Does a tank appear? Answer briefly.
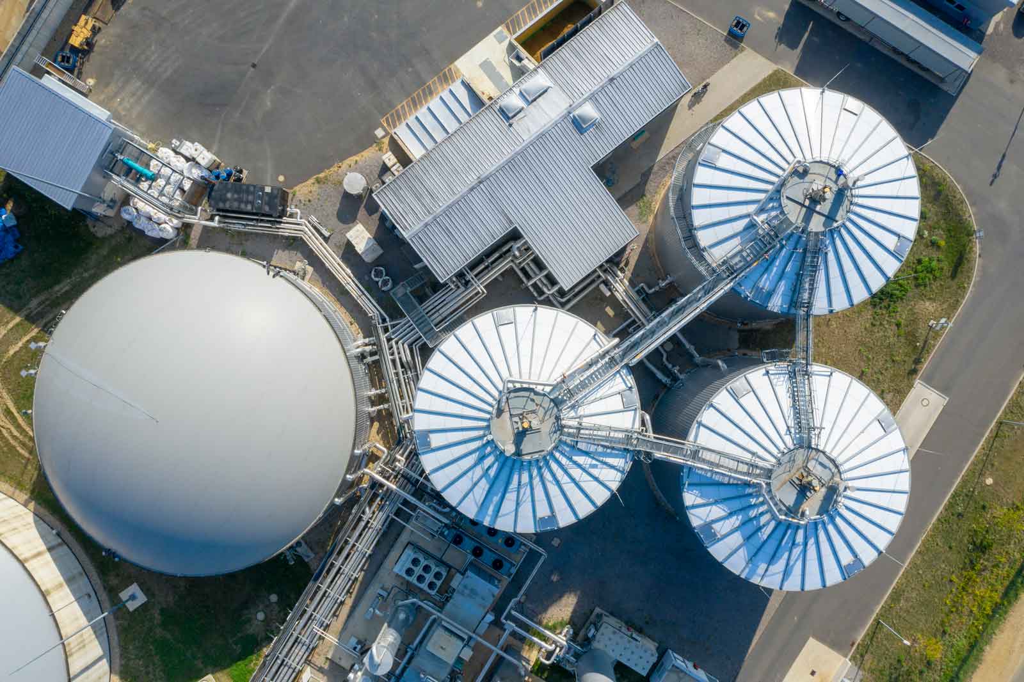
Yes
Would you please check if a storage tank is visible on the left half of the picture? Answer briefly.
Yes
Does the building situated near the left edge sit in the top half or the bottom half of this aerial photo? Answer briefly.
top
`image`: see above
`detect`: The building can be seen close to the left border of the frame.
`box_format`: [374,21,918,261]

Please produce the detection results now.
[0,65,149,216]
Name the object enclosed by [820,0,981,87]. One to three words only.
trailer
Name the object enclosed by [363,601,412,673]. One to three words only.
storage tank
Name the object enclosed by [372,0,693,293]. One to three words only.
building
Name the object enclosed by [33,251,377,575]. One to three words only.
storage tank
